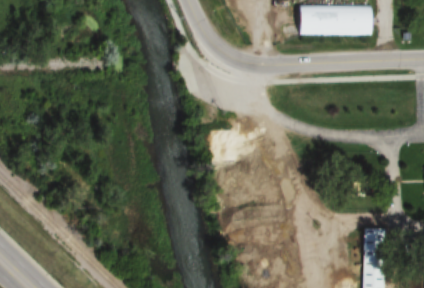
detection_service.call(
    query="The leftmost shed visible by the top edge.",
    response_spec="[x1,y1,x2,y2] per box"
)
[300,6,373,36]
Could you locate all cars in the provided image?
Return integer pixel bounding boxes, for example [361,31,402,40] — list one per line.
[300,57,310,62]
[262,269,269,278]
